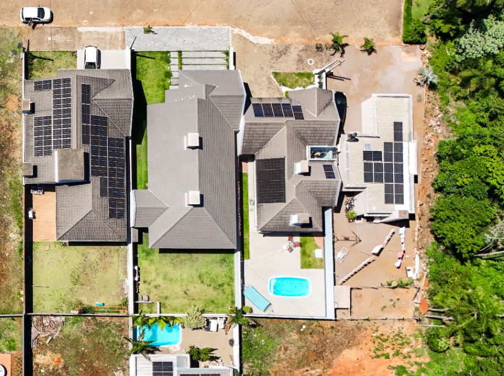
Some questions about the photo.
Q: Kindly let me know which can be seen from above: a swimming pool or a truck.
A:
swimming pool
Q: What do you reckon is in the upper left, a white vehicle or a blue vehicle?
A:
white vehicle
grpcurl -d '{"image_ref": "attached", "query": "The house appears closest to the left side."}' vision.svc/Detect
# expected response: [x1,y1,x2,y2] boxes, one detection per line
[23,69,134,243]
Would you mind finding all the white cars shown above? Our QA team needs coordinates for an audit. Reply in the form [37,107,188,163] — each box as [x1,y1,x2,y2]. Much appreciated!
[20,6,51,30]
[82,40,100,69]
